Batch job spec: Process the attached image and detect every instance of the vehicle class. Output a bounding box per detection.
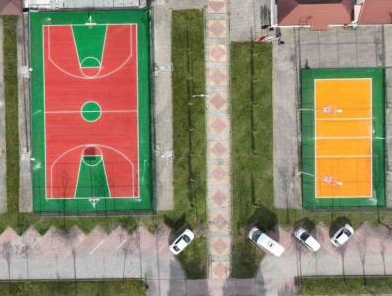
[329,222,354,247]
[248,226,287,258]
[293,226,322,252]
[167,229,194,256]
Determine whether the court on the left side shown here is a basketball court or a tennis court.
basketball court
